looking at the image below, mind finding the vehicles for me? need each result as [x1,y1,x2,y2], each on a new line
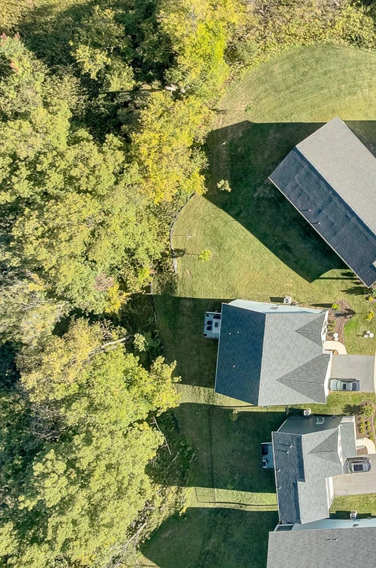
[344,458,373,474]
[331,378,360,392]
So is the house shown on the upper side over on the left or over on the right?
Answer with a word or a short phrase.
right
